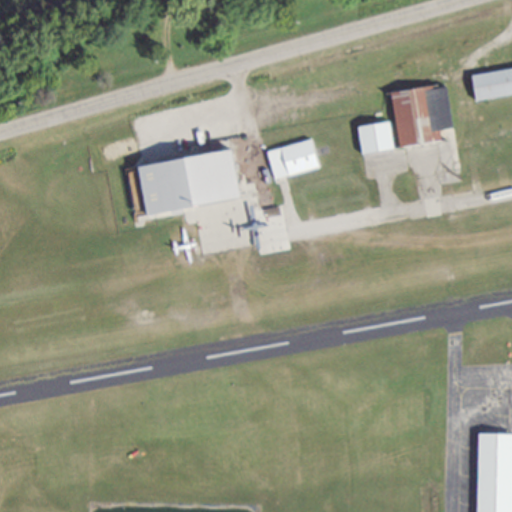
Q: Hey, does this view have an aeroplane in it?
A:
Yes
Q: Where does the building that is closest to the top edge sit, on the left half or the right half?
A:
right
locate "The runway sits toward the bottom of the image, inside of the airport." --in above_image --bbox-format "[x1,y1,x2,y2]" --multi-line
[0,290,512,406]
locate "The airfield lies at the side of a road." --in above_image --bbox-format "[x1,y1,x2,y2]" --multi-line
[0,131,512,512]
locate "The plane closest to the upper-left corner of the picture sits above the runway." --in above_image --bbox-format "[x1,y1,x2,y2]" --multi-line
[171,227,198,264]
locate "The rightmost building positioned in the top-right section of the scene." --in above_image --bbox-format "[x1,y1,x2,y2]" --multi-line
[474,68,512,102]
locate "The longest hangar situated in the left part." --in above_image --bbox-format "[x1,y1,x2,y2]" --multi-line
[138,150,240,214]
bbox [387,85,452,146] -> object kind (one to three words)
hangar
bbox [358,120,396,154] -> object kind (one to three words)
hangar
